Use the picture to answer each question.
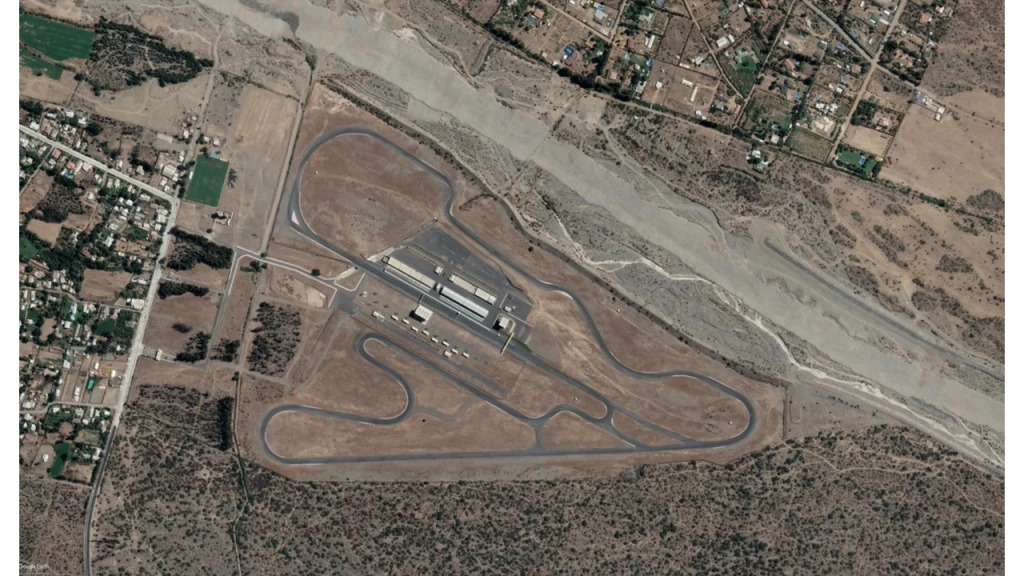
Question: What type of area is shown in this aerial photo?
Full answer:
This looks like a sports ground.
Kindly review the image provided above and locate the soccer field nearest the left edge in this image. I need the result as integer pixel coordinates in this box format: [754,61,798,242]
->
[185,154,229,206]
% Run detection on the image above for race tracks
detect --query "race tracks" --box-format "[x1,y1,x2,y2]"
[240,84,785,481]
